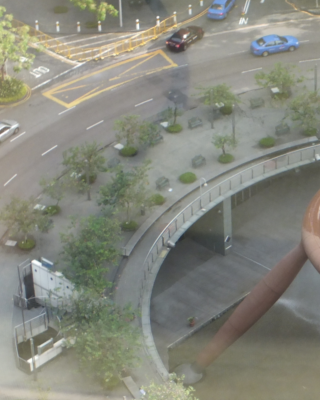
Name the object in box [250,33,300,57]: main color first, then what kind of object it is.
blue car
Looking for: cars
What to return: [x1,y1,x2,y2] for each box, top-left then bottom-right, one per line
[206,0,236,18]
[0,118,20,143]
[165,25,205,51]
[250,33,300,57]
